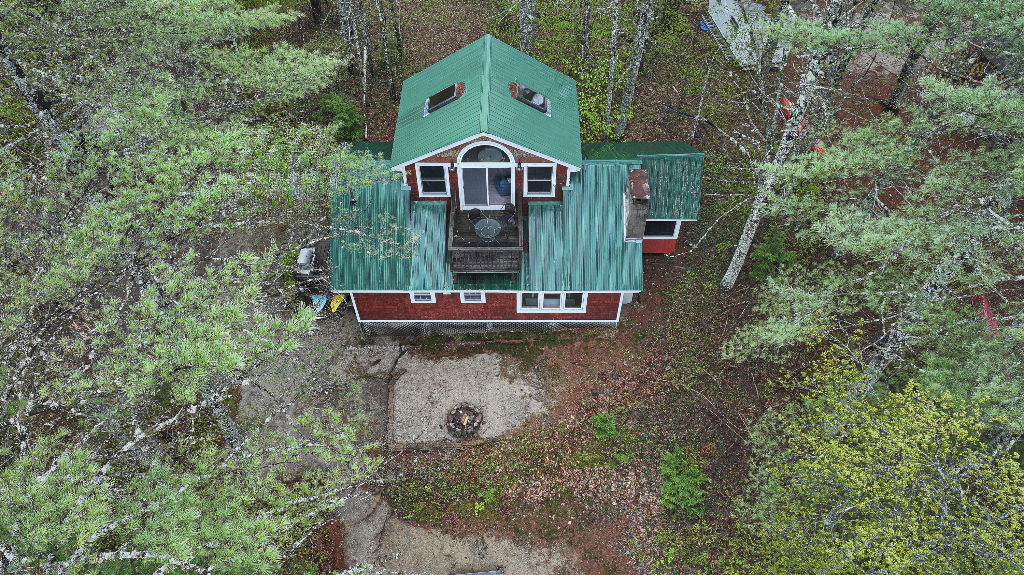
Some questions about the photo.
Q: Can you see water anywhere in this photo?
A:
No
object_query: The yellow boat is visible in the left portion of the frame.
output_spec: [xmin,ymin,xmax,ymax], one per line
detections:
[333,294,346,318]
